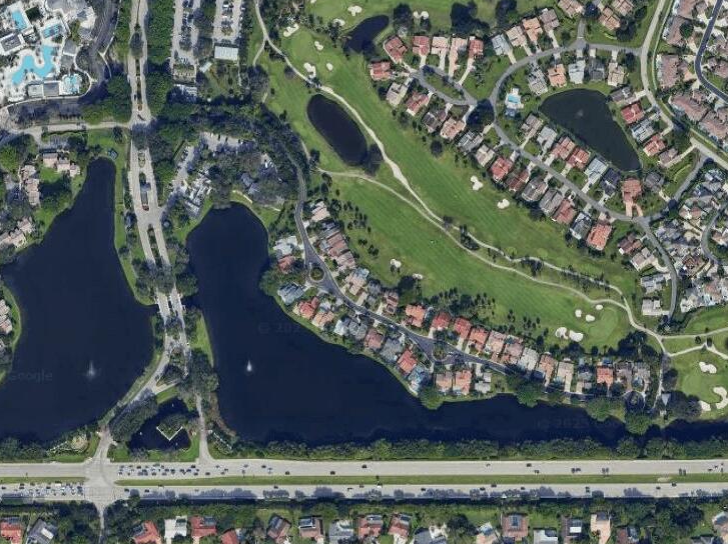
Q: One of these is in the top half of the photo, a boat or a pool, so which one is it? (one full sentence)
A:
You can see a pool in the top half of the photo.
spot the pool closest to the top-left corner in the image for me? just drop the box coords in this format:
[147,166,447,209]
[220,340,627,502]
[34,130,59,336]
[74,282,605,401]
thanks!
[10,10,28,31]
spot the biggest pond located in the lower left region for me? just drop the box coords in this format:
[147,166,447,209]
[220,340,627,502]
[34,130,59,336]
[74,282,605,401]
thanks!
[129,397,193,450]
